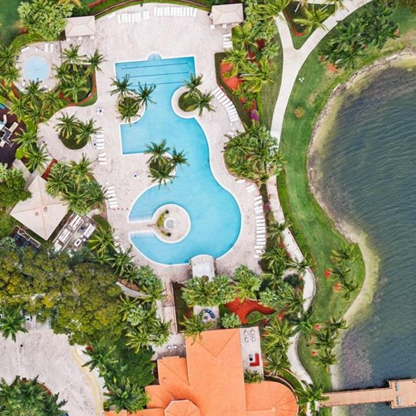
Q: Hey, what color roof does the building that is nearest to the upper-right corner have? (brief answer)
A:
white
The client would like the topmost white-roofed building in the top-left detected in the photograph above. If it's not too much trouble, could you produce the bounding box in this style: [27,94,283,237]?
[65,16,94,38]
